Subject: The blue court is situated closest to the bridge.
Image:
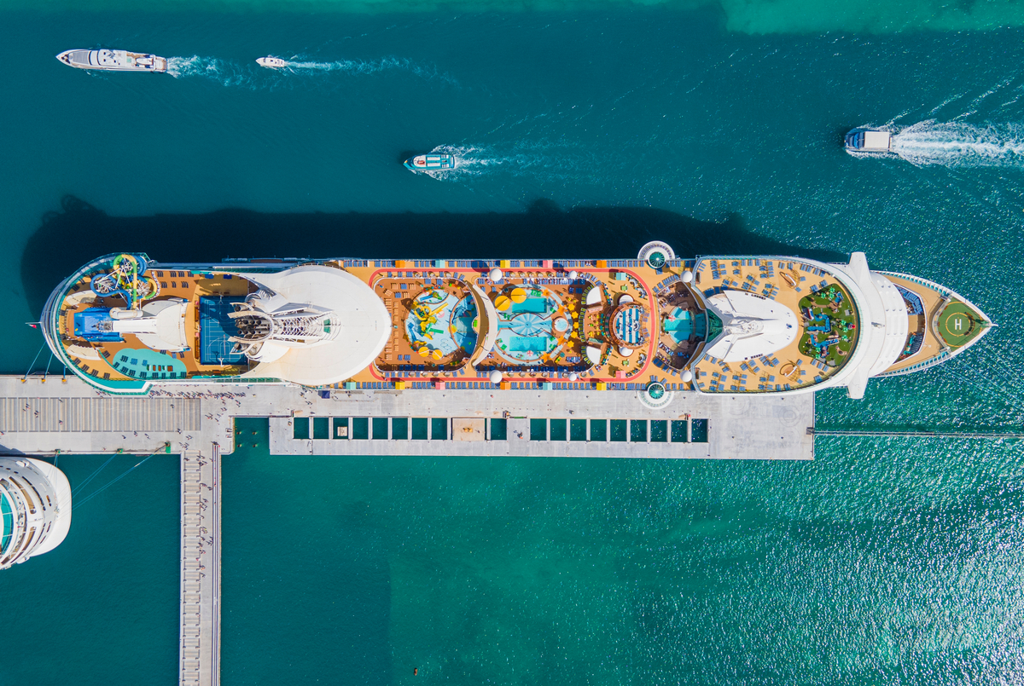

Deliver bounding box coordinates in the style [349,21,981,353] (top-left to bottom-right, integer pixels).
[195,295,249,365]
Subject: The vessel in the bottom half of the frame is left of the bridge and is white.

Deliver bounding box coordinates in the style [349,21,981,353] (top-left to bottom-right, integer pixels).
[0,458,71,564]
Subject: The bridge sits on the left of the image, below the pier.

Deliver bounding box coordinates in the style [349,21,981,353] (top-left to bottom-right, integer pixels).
[178,447,222,686]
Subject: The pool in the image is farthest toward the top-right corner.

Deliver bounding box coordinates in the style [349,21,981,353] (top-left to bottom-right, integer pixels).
[664,301,705,350]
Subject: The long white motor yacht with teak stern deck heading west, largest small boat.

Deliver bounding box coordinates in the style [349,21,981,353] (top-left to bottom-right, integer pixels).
[55,47,168,72]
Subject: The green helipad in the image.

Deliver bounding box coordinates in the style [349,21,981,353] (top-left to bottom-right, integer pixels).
[926,292,987,357]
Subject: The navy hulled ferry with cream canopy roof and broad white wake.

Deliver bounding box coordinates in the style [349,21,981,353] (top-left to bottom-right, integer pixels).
[843,128,894,151]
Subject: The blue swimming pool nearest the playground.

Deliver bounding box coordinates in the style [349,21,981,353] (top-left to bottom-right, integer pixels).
[451,294,477,353]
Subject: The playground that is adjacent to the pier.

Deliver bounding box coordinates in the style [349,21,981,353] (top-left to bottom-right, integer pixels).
[405,287,461,359]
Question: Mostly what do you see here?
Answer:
water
